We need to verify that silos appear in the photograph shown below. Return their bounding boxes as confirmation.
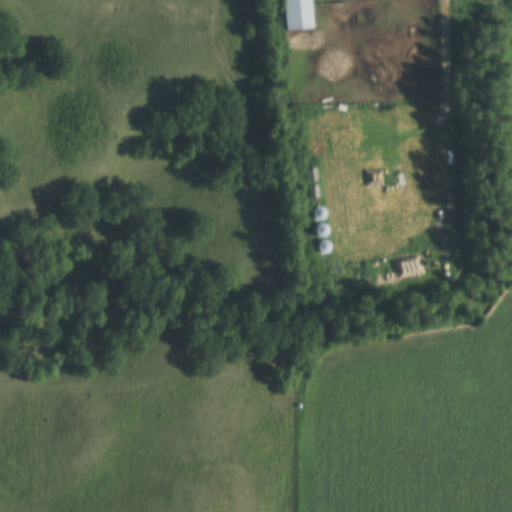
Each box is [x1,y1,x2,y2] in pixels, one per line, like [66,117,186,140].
[312,206,328,221]
[318,240,333,255]
[316,222,330,238]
